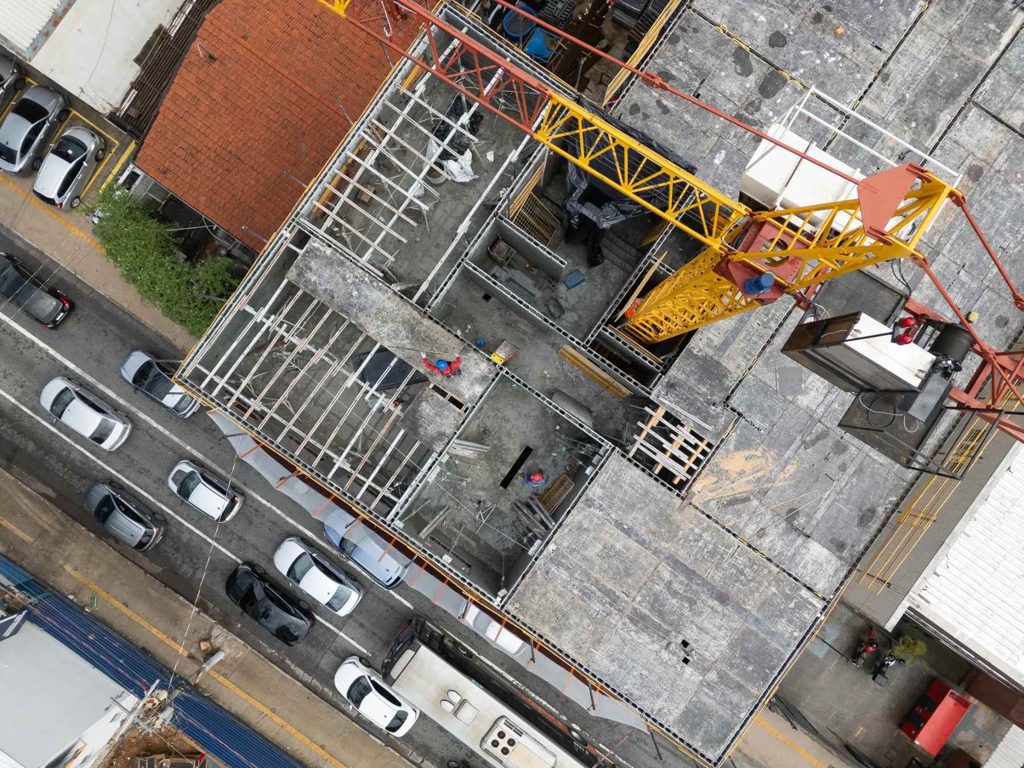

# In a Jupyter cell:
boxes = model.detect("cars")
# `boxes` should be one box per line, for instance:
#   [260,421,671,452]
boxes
[119,349,209,423]
[0,248,79,329]
[274,537,365,614]
[0,86,78,177]
[334,656,420,734]
[452,612,523,666]
[29,128,110,209]
[320,519,403,587]
[43,376,136,451]
[0,47,41,130]
[168,457,247,524]
[225,563,317,643]
[84,479,172,553]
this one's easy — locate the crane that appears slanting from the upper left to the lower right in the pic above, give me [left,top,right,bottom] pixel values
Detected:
[310,0,1024,481]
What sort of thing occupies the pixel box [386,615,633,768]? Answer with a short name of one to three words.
bus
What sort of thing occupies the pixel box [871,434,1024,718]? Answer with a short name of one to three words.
shed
